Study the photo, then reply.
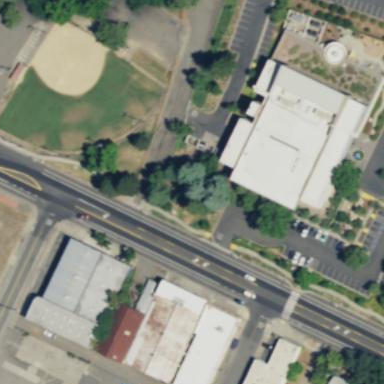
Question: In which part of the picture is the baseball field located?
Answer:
top left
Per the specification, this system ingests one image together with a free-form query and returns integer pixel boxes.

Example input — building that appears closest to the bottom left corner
[25,296,97,348]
